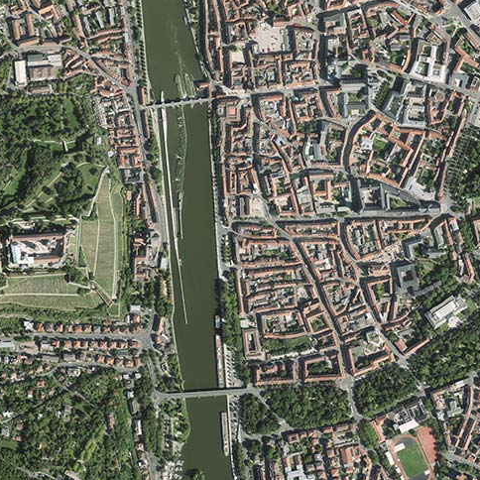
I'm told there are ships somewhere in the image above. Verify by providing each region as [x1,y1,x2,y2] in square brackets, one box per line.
[215,334,224,387]
[221,413,227,457]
